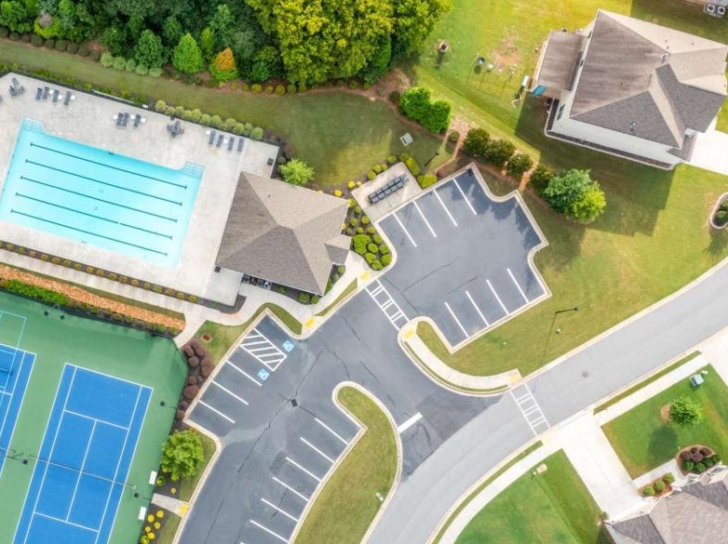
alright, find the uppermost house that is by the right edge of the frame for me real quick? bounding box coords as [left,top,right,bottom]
[526,10,728,169]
